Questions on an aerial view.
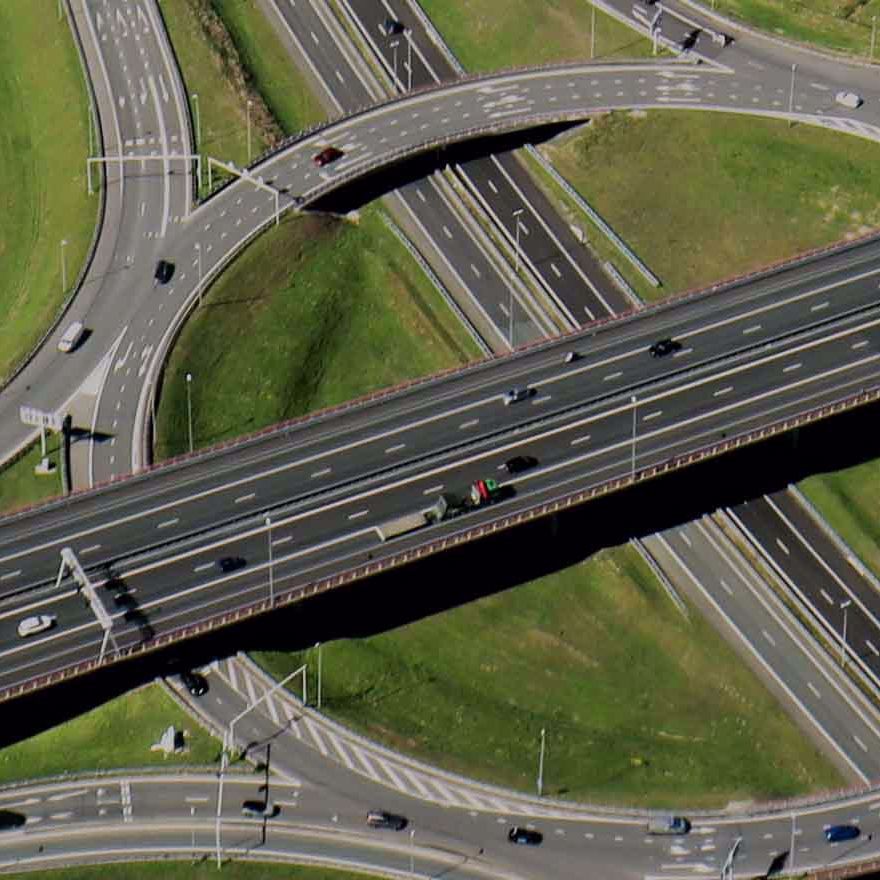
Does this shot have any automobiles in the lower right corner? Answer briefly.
Yes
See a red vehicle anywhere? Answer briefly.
Yes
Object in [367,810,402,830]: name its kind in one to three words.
car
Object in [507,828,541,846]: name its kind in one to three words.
car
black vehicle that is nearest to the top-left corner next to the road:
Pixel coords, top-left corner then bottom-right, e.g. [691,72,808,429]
[156,263,173,284]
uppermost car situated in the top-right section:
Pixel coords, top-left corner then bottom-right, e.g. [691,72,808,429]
[711,33,733,48]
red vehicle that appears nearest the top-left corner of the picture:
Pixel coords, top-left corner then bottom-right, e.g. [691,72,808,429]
[312,150,339,166]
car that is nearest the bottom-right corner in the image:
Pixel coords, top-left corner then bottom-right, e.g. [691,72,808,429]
[822,825,858,843]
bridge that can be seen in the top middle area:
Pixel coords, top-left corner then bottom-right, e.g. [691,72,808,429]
[195,55,672,217]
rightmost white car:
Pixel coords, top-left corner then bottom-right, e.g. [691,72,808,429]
[834,94,861,108]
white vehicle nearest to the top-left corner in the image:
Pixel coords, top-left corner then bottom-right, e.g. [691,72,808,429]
[58,320,82,350]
